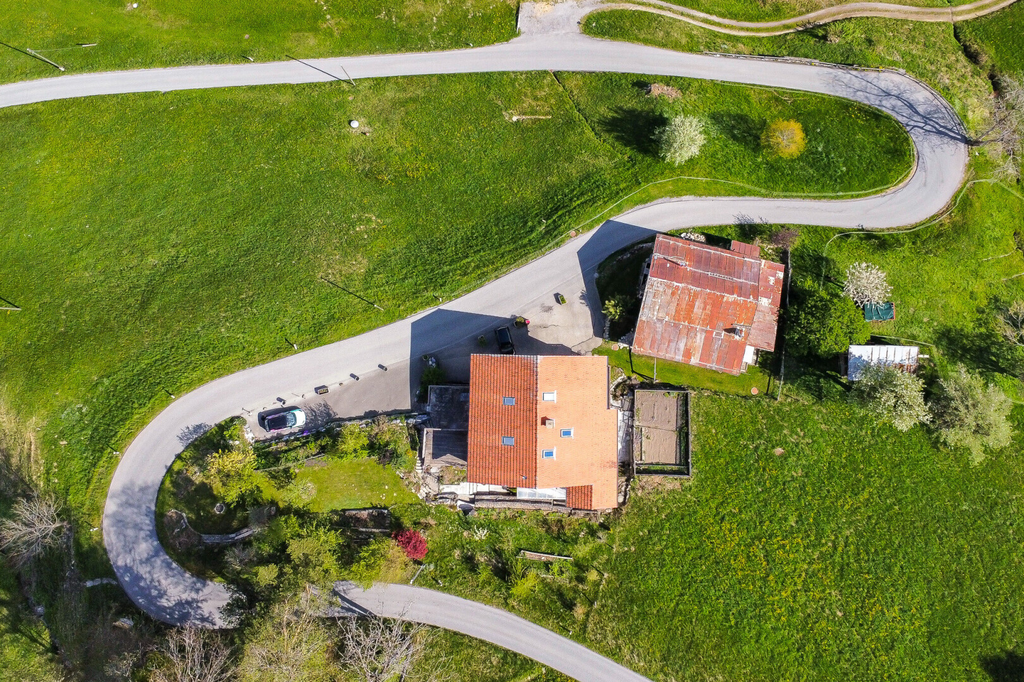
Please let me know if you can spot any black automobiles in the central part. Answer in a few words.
Yes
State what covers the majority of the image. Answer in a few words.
grass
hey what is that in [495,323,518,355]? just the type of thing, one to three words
car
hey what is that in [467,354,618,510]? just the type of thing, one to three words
house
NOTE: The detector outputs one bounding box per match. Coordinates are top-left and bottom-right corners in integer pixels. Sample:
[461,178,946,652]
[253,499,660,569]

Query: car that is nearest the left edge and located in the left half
[260,410,304,433]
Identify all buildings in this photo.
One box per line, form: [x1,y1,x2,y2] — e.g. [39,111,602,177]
[467,354,618,510]
[632,234,784,376]
[840,345,930,381]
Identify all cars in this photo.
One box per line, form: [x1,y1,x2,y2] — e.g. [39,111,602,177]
[495,323,518,355]
[260,410,304,433]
